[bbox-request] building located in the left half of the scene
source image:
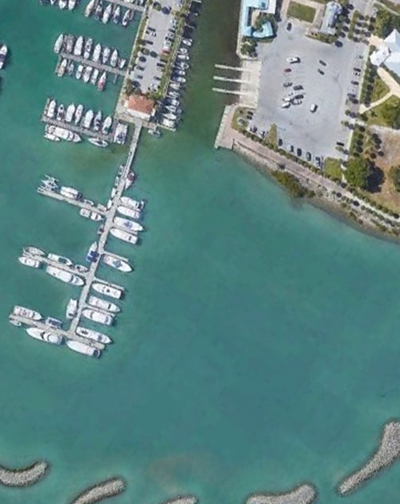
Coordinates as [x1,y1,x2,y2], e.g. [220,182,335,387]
[128,95,155,113]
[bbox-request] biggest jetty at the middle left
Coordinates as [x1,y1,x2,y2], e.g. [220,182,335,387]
[9,125,141,350]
